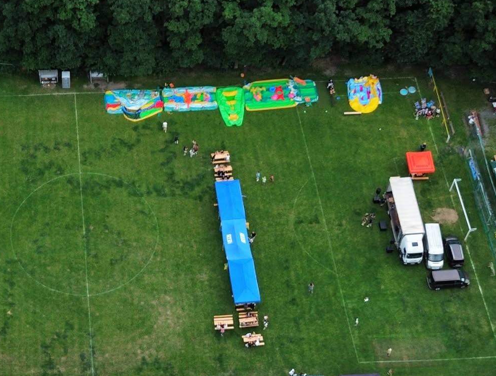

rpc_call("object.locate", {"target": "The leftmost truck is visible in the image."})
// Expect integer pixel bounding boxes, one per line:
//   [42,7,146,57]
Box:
[387,177,427,266]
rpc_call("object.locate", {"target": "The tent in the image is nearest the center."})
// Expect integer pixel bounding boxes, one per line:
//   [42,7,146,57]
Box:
[214,179,245,228]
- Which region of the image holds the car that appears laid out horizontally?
bottom right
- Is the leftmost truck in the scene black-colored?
No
